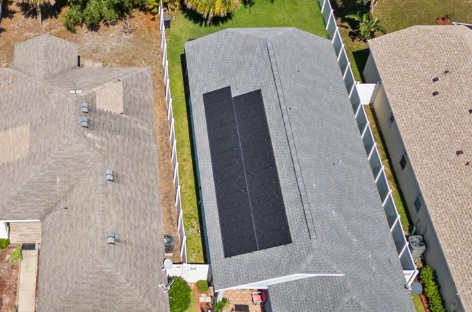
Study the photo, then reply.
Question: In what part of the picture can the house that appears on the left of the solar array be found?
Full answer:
The house that appears on the left of the solar array is in the left part of the image.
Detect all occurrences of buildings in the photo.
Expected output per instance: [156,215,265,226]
[363,26,472,312]
[0,34,172,312]
[184,29,416,312]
